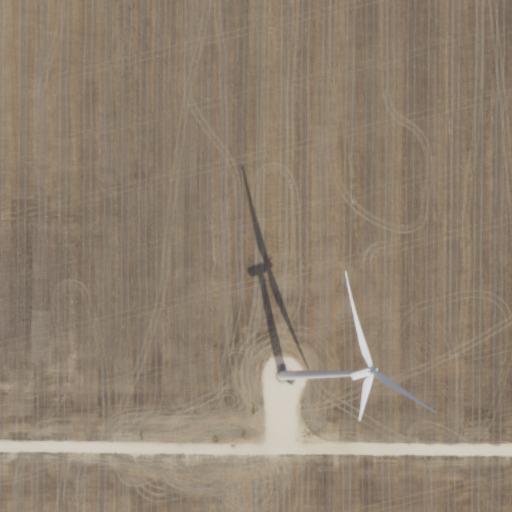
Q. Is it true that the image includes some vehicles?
No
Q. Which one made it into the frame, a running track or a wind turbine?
wind turbine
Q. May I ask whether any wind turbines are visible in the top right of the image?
No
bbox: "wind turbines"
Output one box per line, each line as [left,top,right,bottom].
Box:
[277,270,434,420]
